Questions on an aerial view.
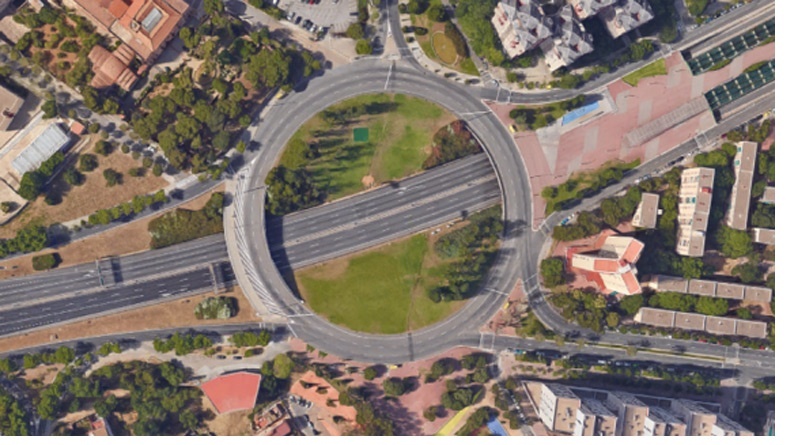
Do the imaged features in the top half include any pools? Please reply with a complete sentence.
Yes, I can see a pool in the top half.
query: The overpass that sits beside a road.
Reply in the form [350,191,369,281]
[222,156,294,332]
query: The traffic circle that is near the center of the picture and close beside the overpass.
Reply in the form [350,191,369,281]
[245,58,534,366]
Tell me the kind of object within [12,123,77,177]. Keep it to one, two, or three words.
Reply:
building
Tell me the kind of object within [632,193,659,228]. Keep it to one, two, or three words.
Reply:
building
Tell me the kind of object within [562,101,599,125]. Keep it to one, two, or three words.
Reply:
swimming pool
